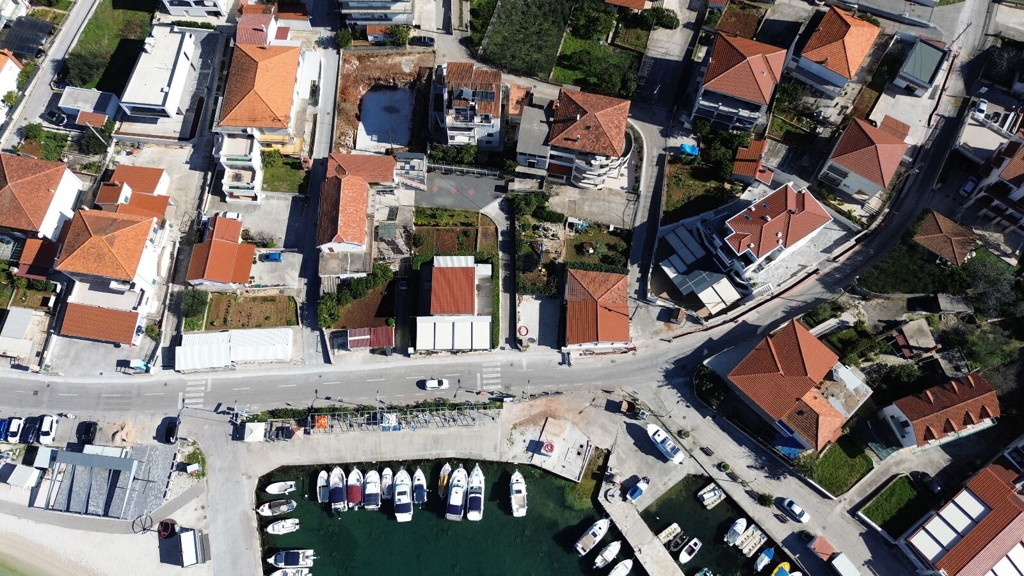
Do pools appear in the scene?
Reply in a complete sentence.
No, I can't see a single pool in this photo.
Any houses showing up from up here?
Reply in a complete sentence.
Yes, the picture does show a house.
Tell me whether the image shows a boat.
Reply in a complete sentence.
Yes, a boat appears in the view.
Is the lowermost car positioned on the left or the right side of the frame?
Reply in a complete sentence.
You can find the lowermost car on the right side of the picture.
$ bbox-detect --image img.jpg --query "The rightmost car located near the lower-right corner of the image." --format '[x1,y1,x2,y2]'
[922,471,945,494]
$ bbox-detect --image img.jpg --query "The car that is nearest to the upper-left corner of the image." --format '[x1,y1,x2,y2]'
[42,107,66,123]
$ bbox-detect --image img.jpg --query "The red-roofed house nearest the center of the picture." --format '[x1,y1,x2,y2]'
[431,267,476,316]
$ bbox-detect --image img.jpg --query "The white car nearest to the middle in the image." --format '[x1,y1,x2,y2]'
[425,376,448,389]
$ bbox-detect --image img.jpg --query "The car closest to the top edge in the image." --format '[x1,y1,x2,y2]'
[410,32,435,44]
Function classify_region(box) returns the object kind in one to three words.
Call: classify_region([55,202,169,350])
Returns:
house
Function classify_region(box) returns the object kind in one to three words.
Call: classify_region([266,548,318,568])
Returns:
boat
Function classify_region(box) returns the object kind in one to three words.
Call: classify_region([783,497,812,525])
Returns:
car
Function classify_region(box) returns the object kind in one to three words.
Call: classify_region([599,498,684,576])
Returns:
pier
